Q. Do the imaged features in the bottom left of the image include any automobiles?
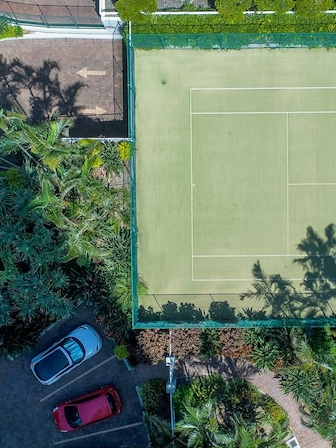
Yes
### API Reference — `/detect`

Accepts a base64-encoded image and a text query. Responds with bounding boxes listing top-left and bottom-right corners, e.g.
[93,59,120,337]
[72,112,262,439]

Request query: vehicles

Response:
[26,321,106,387]
[52,385,127,431]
